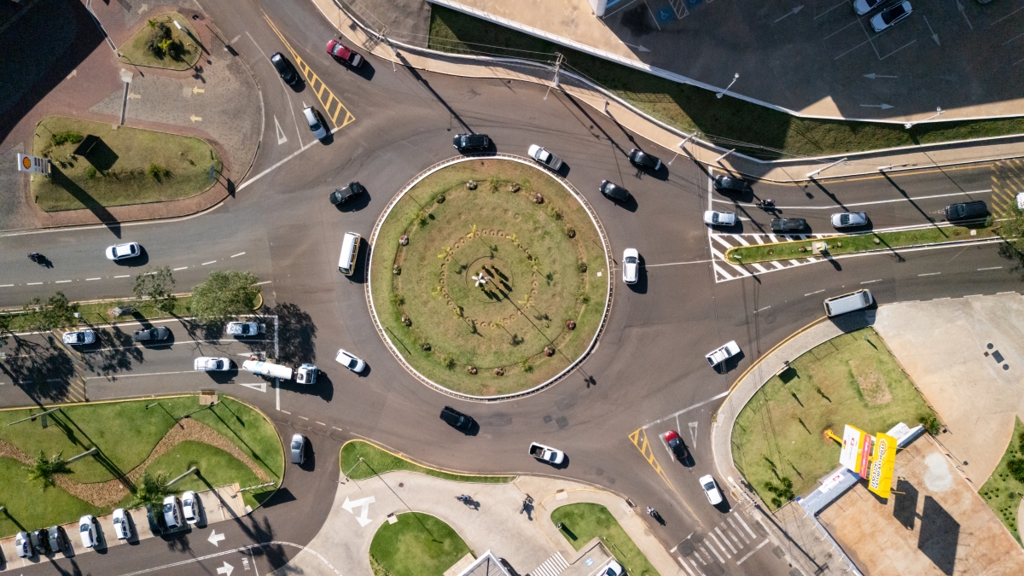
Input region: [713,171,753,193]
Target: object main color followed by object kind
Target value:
black car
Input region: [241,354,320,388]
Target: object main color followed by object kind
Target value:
white truck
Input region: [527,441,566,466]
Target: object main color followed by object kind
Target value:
white vehicle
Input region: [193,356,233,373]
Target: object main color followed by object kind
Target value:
white vehicle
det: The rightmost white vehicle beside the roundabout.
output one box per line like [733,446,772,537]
[621,248,640,284]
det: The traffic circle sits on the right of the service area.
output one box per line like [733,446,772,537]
[366,153,615,402]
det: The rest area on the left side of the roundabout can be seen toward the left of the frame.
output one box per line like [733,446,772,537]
[0,0,265,232]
